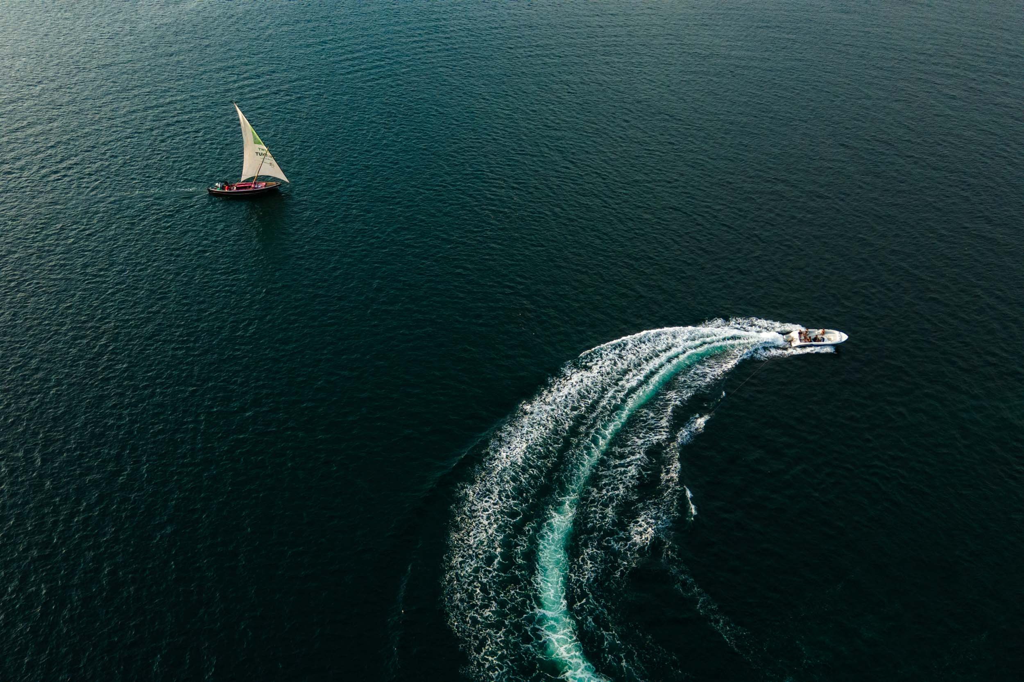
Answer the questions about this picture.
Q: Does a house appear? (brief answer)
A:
No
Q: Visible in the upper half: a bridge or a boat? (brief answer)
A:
boat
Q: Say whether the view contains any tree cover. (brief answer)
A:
No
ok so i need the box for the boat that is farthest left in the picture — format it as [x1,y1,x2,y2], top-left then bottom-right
[206,100,290,196]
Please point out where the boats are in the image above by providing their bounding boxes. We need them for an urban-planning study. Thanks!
[783,328,850,347]
[206,100,290,196]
